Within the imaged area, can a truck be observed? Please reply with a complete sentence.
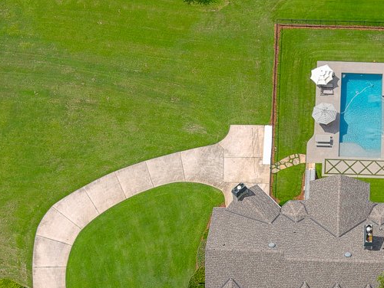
No, this view has no truck in it.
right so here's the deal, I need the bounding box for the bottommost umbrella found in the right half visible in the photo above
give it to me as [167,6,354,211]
[312,104,336,126]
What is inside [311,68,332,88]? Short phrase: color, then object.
white umbrella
